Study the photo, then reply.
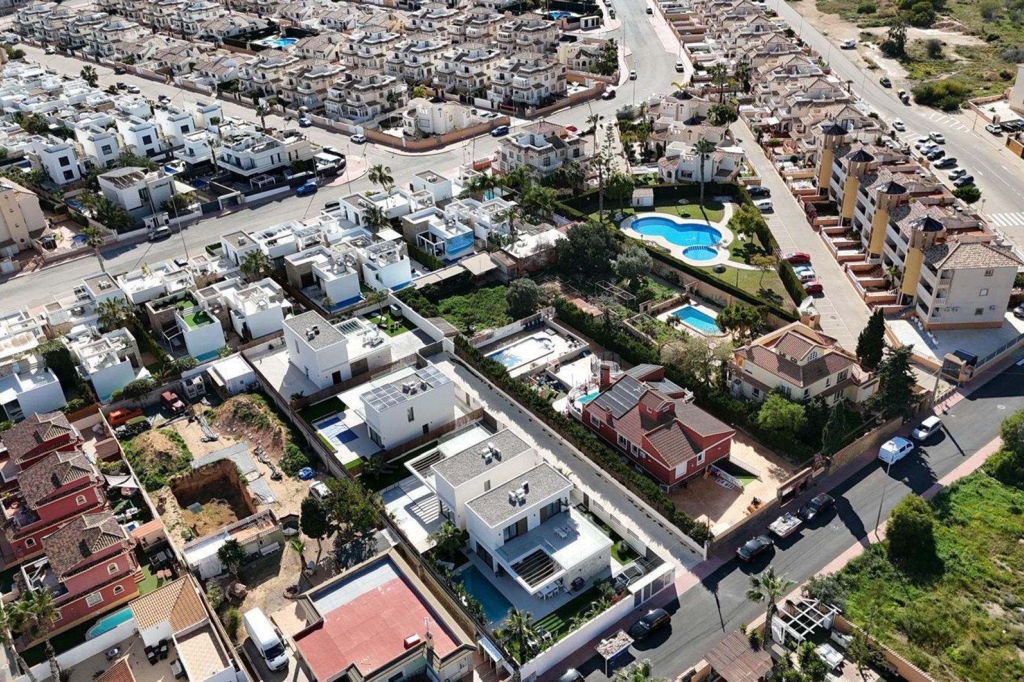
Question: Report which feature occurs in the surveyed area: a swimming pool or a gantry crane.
swimming pool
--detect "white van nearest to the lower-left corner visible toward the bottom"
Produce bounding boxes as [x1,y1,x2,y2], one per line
[237,601,287,669]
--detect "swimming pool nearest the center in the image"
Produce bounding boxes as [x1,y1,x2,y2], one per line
[494,333,564,369]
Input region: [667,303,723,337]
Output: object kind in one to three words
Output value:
swimming pool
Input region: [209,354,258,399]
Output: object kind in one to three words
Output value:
house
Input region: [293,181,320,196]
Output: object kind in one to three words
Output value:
car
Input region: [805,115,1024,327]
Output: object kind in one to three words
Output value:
building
